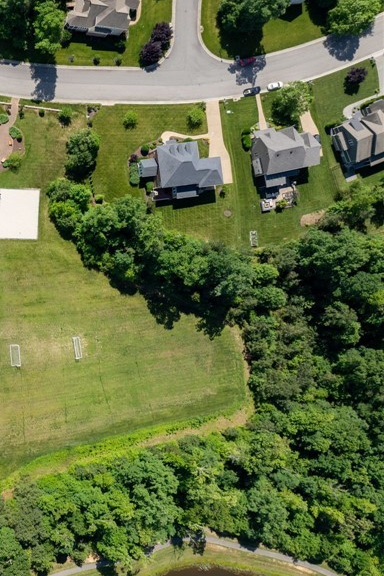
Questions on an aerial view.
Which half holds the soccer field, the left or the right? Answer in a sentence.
It is on the left.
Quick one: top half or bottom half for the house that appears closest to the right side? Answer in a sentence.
The top half of the photo is where the house that appears closest to the right side is.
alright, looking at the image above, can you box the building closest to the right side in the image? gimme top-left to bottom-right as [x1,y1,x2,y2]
[331,97,384,179]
